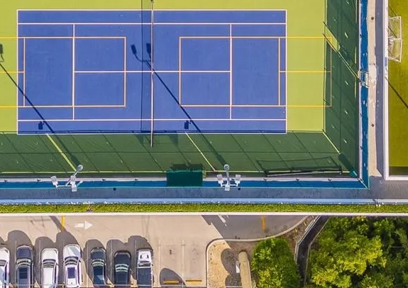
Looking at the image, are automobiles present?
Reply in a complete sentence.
Yes, the image includes an automobile.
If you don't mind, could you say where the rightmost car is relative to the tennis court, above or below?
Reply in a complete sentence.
The rightmost car appears below the tennis court in the picture.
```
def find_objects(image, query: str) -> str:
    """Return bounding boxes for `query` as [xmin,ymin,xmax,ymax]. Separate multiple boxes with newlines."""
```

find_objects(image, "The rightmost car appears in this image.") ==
[134,245,155,287]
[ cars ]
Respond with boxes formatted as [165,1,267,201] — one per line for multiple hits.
[134,245,155,287]
[88,244,109,287]
[12,245,34,288]
[39,244,60,288]
[60,241,82,287]
[0,245,11,288]
[111,248,132,288]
